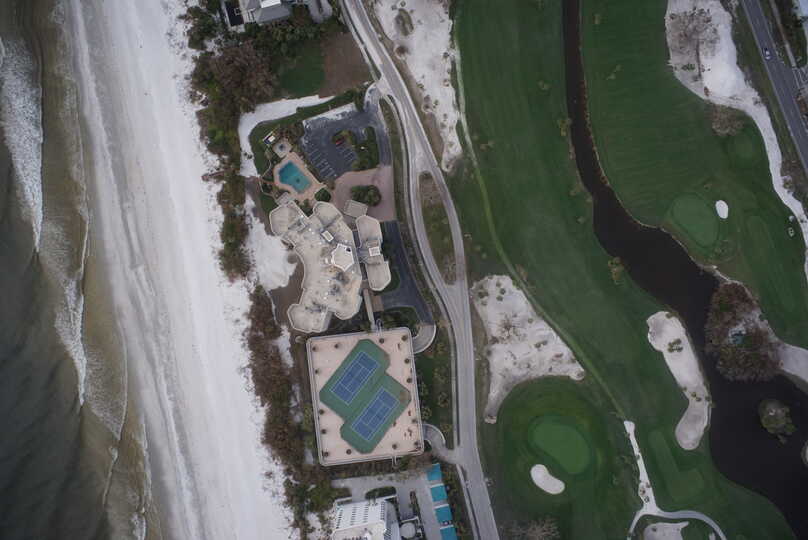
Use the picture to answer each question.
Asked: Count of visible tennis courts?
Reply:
two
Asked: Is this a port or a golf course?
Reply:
golf course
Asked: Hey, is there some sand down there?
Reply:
Yes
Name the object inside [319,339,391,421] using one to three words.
tennis court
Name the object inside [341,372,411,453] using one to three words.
tennis court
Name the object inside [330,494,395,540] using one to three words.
building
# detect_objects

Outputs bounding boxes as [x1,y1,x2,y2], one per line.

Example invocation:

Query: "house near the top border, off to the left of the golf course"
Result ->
[221,0,298,32]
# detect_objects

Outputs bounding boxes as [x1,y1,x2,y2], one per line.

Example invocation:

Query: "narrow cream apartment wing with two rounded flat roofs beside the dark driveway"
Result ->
[356,215,391,291]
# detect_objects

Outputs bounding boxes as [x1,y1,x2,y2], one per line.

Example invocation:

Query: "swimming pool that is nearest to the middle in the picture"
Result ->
[273,151,327,207]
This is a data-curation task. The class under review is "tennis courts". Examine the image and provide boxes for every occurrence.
[341,372,411,453]
[319,339,391,421]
